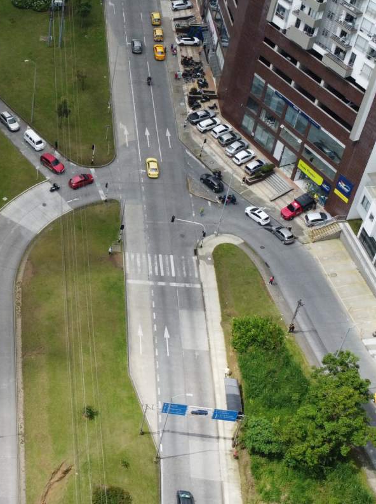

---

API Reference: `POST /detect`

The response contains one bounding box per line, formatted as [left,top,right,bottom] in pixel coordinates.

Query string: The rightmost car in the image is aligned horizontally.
[300,210,330,223]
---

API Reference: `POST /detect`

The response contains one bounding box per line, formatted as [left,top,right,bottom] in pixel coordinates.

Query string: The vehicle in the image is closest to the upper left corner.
[0,111,19,131]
